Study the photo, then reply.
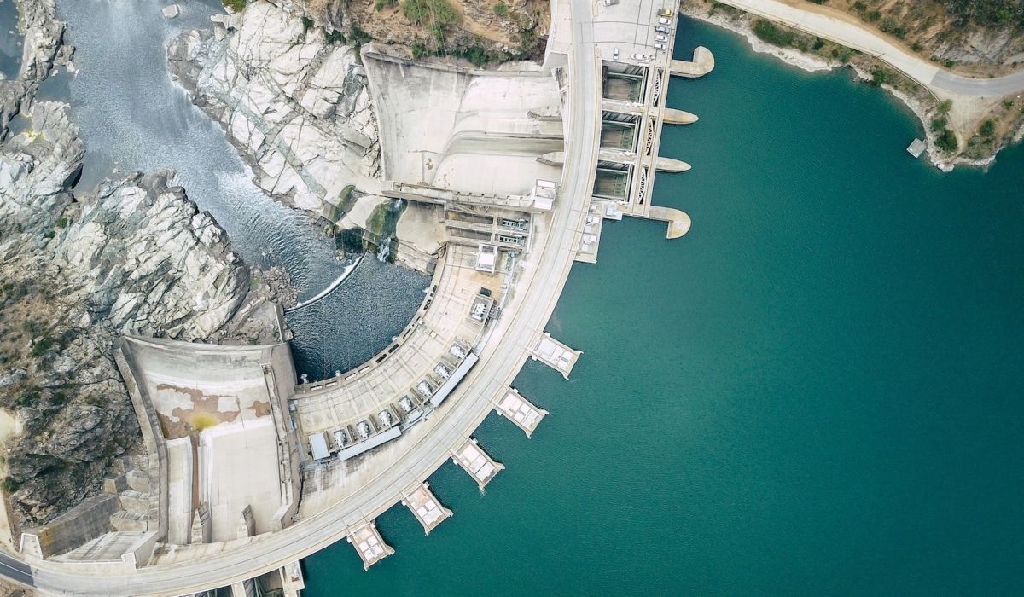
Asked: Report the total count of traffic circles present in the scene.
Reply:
0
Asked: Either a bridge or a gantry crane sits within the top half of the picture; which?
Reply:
bridge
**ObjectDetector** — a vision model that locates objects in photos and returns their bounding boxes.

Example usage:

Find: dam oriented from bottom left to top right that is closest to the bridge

[30,0,603,597]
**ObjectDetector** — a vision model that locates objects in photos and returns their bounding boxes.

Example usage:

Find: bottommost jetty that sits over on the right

[590,198,691,239]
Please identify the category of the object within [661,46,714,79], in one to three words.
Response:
pier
